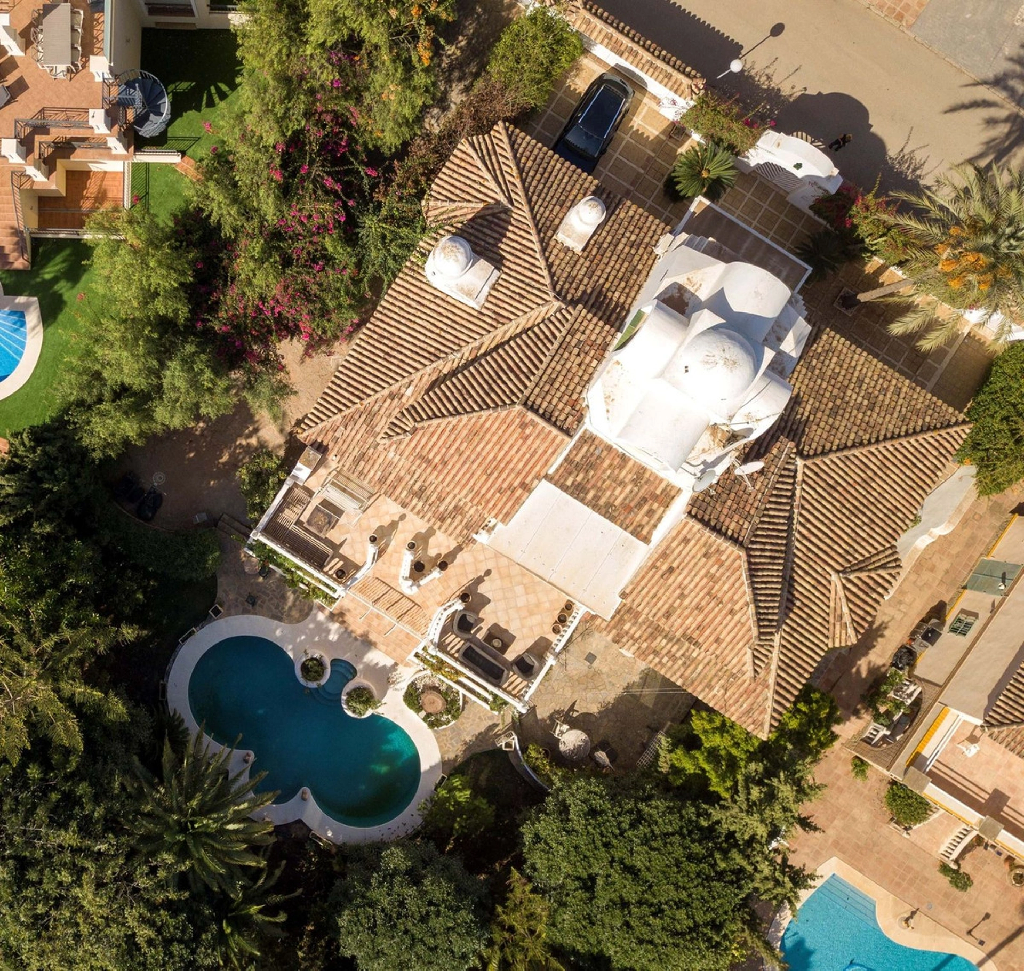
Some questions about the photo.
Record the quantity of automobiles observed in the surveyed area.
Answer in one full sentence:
The photo contains exactly 1 automobile.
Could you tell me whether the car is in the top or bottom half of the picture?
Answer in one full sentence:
The car is in the top half of the image.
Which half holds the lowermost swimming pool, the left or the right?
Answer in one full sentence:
You can find the lowermost swimming pool on the right side of the picture.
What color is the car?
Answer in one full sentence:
The color of the car is black.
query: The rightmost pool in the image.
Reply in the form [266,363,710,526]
[778,875,979,971]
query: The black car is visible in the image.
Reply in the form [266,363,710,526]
[554,67,636,174]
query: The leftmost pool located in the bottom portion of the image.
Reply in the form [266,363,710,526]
[188,636,421,828]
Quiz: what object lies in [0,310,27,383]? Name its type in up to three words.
swimming pool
